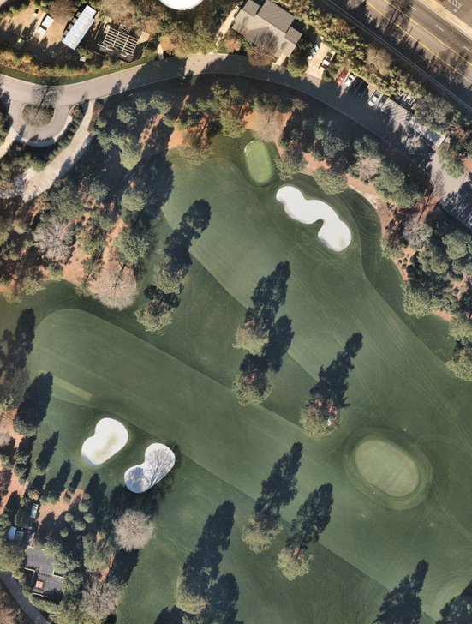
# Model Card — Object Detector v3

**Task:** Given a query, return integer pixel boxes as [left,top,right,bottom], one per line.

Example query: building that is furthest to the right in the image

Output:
[230,0,305,62]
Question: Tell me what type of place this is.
golf course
